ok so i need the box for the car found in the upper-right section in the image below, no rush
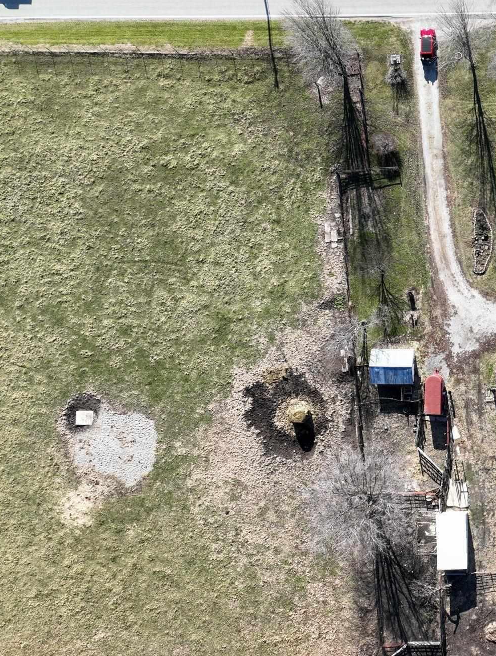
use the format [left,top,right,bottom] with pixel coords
[419,26,436,59]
